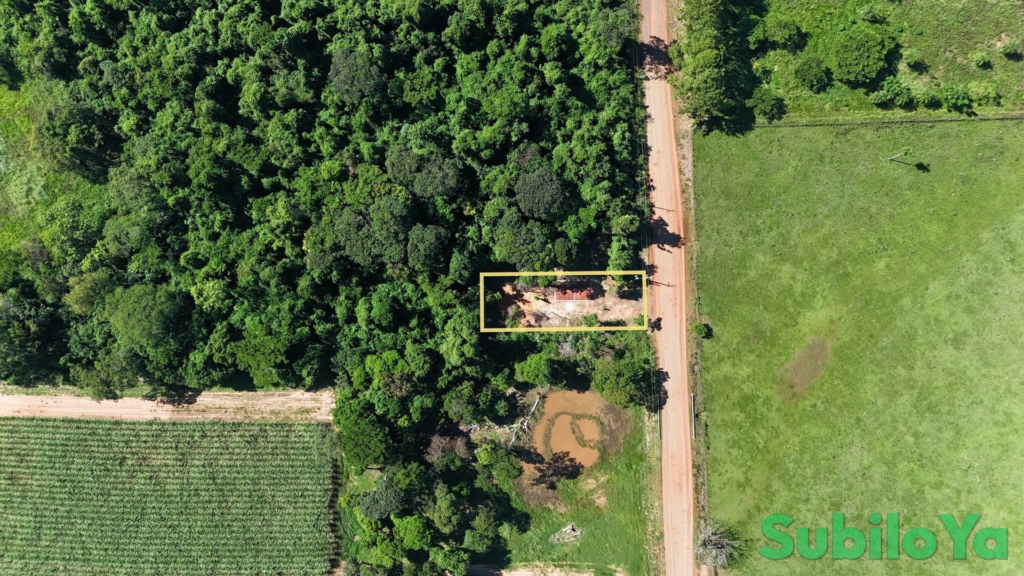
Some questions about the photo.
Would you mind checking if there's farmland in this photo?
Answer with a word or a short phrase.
Yes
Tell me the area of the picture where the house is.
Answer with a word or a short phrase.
center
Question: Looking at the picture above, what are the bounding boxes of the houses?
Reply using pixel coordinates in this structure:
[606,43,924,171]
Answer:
[555,281,594,303]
